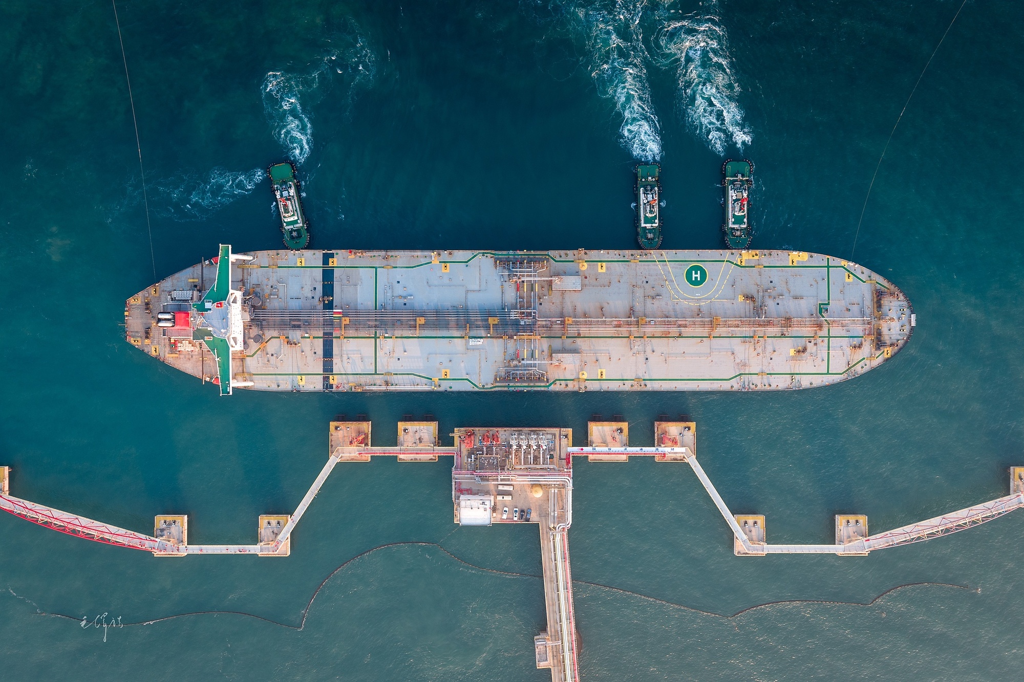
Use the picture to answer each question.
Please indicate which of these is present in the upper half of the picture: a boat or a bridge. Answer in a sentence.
Visible in the upper half of the picture is a boat.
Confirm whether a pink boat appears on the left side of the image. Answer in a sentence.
No, looking on the left side of the image, there is no pink boat.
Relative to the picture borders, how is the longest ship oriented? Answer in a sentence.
In this picture, the longest ship lies from left to right.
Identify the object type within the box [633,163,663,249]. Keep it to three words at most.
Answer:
boat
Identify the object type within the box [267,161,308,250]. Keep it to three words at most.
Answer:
boat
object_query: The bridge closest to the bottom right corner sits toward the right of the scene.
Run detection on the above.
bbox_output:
[865,492,1024,552]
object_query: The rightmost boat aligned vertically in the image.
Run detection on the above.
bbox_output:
[721,160,754,250]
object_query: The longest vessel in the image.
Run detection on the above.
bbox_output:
[118,244,917,396]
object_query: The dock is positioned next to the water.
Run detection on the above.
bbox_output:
[540,523,582,682]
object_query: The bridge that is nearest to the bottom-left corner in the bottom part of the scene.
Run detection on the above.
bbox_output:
[0,492,159,552]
